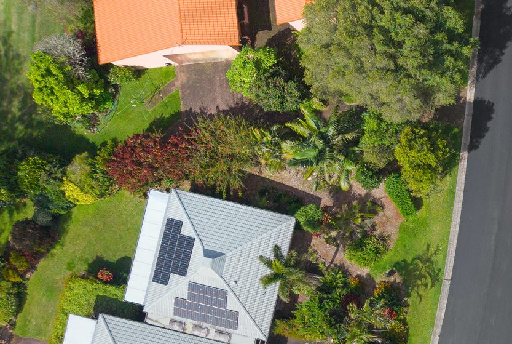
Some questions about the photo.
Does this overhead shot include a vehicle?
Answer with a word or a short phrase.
No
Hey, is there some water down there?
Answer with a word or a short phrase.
No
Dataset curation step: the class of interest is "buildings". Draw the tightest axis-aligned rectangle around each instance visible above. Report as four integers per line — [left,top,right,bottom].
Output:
[277,0,333,32]
[97,0,242,68]
[125,188,299,344]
